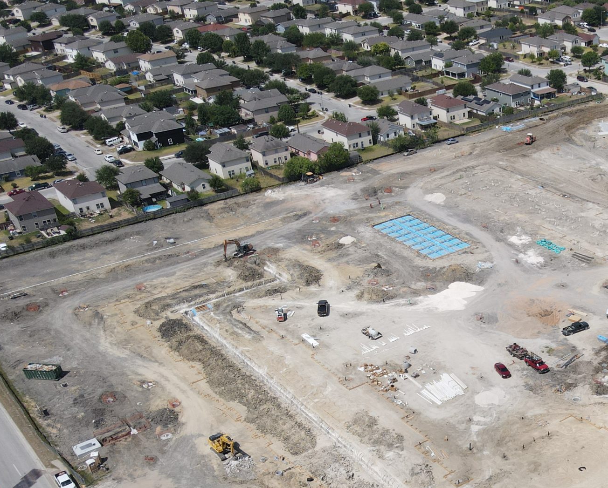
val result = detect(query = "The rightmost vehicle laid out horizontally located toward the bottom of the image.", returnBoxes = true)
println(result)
[563,323,588,335]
